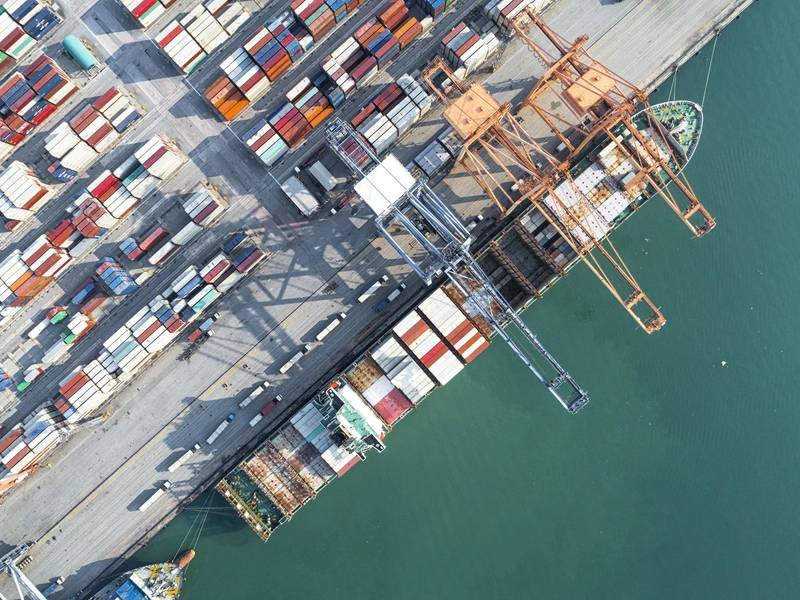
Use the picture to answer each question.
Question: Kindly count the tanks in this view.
1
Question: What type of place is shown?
port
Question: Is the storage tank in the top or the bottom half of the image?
top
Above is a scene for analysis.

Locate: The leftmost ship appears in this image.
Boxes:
[89,547,197,600]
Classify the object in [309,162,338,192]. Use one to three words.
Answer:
shed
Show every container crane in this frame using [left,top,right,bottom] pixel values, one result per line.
[0,543,48,600]
[418,55,677,339]
[317,112,598,417]
[506,0,722,242]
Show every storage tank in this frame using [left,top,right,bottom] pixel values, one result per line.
[58,33,107,81]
